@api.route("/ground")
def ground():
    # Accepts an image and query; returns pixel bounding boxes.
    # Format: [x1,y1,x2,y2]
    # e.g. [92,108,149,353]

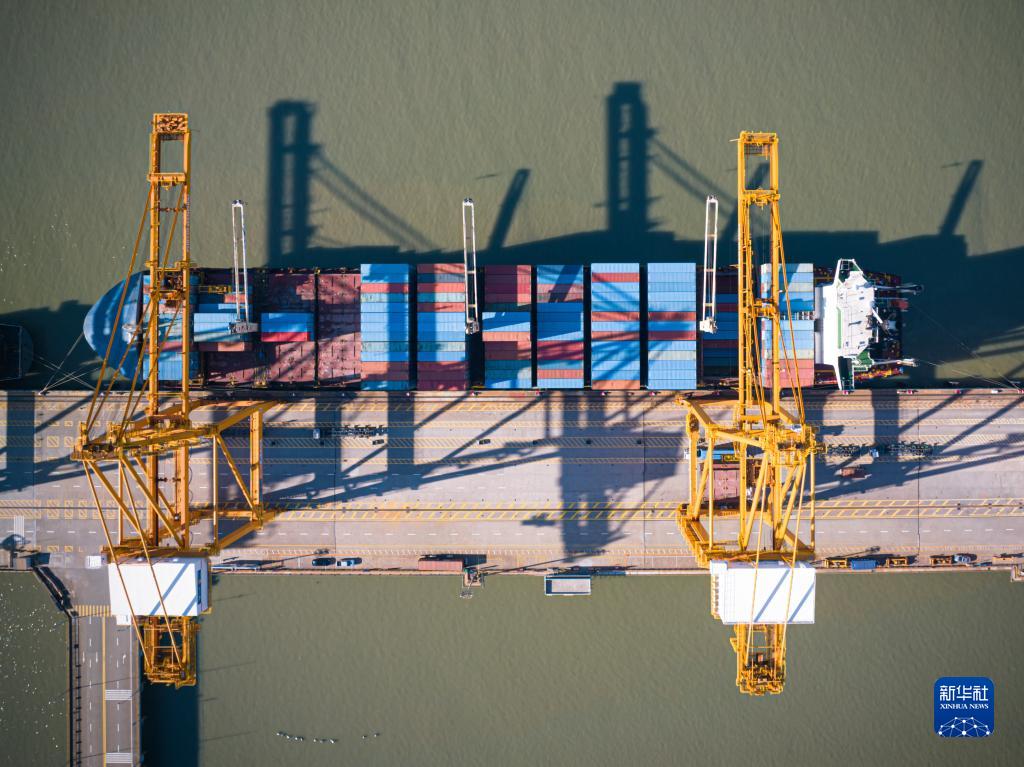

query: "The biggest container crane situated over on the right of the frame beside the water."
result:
[670,131,830,695]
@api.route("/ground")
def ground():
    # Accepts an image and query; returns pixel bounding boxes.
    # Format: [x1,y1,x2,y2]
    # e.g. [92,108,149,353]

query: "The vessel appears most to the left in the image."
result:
[0,322,46,382]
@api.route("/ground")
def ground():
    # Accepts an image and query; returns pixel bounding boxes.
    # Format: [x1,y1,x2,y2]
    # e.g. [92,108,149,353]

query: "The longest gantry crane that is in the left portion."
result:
[69,112,290,687]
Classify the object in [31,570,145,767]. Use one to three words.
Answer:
pier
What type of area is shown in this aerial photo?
port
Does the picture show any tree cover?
No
